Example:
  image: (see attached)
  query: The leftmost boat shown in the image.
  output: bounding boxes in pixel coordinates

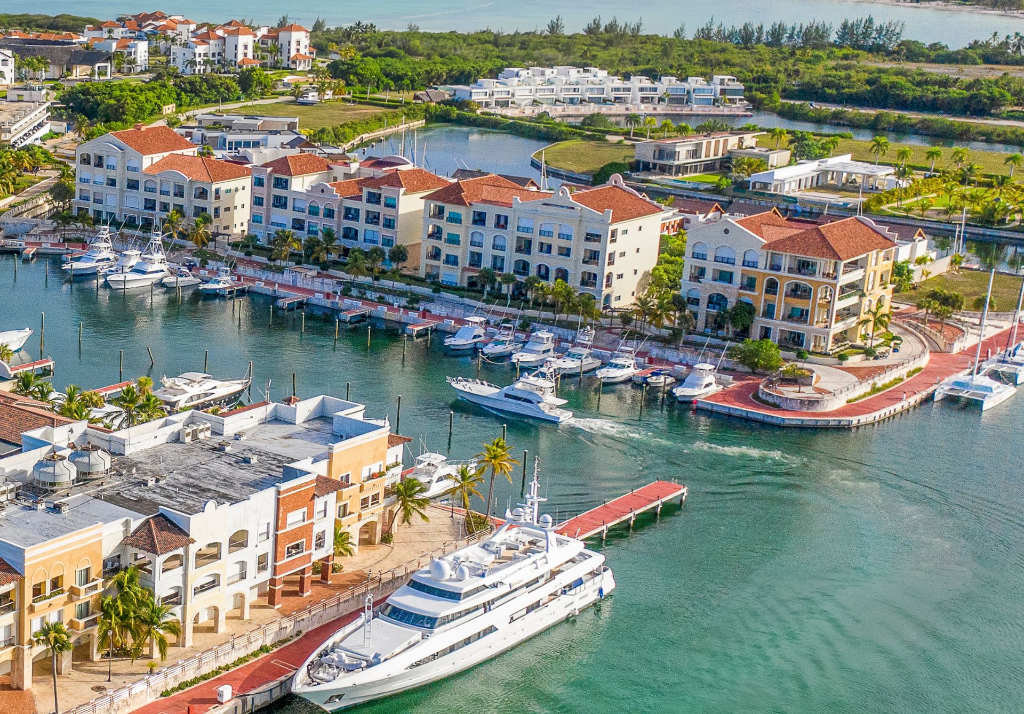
[0,320,29,348]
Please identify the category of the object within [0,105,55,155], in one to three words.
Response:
building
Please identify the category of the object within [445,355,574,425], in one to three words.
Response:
boat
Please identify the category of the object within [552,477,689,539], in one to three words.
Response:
pier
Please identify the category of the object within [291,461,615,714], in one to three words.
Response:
boat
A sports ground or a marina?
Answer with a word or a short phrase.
marina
